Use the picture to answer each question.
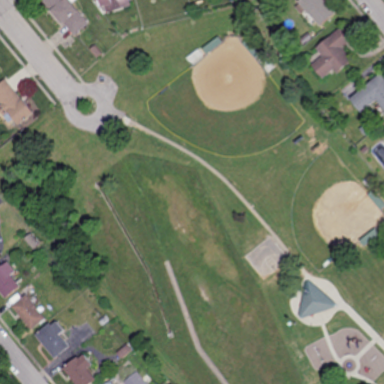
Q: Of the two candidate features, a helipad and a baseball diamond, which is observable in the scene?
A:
baseball diamond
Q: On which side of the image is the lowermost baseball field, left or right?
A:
right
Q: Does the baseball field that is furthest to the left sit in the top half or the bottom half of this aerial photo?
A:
top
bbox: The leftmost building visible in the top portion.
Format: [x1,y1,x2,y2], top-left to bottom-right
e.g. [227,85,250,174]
[0,76,34,126]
